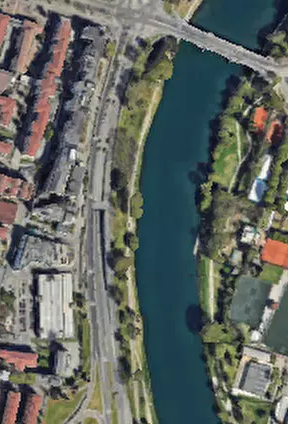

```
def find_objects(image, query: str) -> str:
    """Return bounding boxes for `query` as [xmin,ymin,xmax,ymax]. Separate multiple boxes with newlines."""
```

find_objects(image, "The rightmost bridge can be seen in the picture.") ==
[179,21,288,86]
